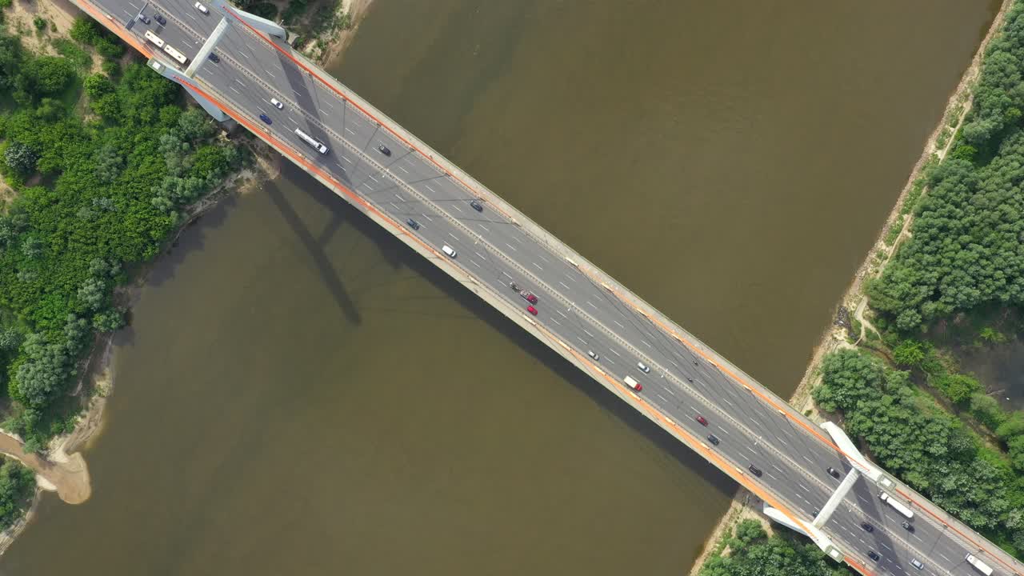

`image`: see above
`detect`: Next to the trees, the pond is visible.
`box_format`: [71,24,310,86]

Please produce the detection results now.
[962,341,1024,413]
